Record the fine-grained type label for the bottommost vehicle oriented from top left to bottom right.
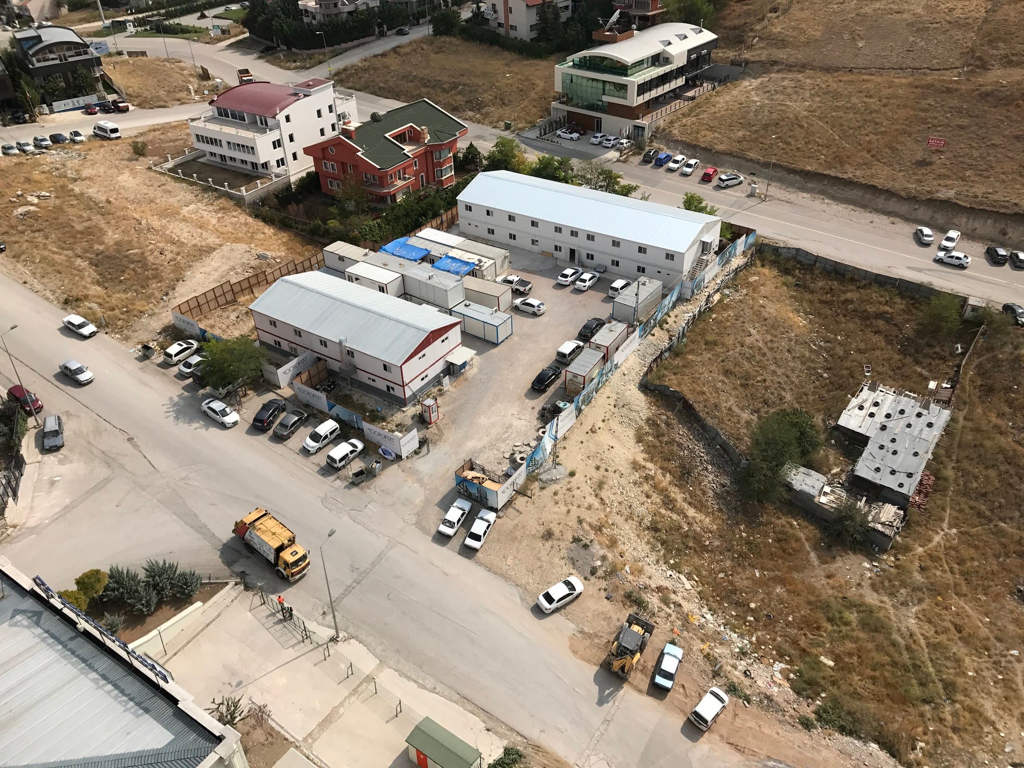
truck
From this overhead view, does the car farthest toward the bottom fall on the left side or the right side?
right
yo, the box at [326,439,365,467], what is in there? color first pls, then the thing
white van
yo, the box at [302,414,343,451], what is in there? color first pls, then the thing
white van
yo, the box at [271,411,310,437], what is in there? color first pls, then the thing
gray car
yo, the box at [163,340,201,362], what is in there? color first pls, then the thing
white car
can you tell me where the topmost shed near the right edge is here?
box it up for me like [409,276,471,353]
[966,292,1003,325]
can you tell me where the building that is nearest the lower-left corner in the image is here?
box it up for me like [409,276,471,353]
[0,558,250,768]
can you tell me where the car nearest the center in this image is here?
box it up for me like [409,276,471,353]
[530,363,566,392]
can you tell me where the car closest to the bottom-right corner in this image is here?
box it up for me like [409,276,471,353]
[689,684,729,733]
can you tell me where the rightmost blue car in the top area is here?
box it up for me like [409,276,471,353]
[654,152,673,165]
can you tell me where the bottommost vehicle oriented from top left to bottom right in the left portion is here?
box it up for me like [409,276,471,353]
[224,504,312,579]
